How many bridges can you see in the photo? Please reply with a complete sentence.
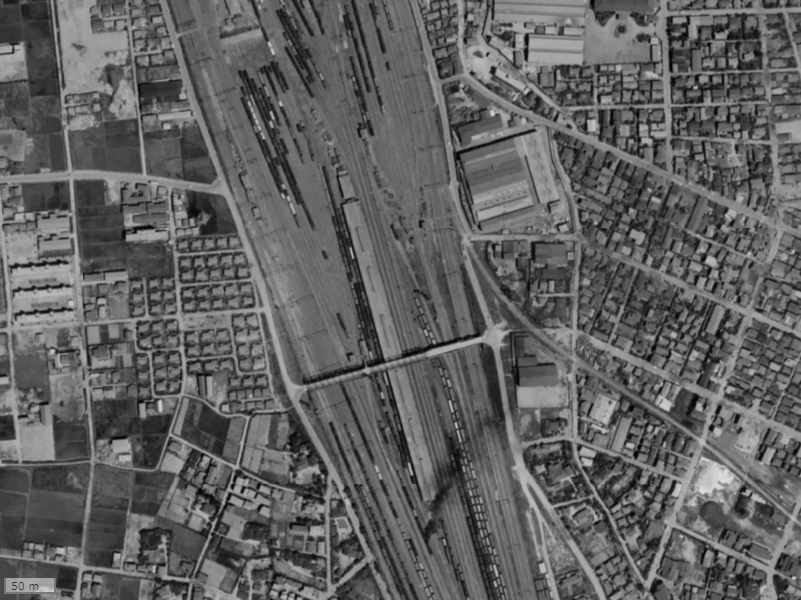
The photo contains exactly 1 bridge.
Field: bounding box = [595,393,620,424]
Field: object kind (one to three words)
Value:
building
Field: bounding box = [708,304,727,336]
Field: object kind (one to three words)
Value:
shed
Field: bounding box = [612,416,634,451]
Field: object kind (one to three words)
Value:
shed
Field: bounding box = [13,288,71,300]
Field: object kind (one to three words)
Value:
building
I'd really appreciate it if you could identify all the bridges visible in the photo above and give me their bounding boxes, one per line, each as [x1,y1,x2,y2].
[301,334,487,391]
